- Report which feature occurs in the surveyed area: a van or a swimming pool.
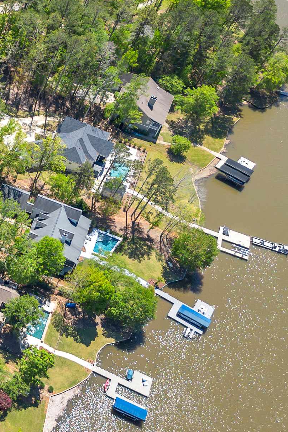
swimming pool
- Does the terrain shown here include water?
Yes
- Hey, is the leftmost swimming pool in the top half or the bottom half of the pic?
bottom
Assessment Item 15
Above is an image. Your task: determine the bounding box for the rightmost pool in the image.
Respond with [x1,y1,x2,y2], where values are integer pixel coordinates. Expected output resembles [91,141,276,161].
[112,146,141,190]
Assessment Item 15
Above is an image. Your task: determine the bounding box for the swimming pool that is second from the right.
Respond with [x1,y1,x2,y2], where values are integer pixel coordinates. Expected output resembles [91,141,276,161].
[80,227,123,260]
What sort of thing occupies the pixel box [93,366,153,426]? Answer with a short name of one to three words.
pier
